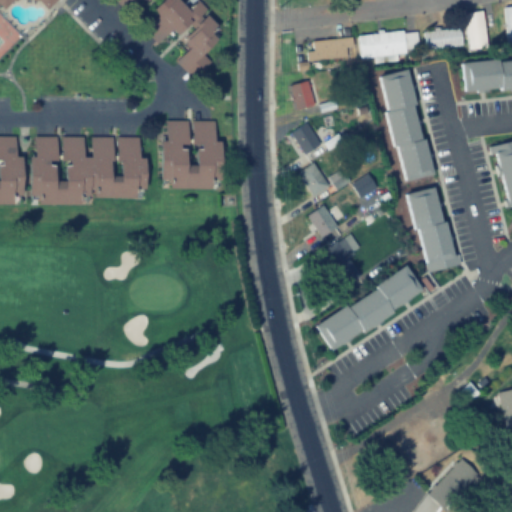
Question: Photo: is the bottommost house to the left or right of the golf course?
right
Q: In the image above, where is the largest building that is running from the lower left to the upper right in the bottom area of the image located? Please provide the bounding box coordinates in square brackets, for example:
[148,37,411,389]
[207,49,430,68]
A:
[314,266,424,350]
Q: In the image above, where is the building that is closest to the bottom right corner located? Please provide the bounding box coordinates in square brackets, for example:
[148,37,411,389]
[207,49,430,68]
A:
[430,460,480,510]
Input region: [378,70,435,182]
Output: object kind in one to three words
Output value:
building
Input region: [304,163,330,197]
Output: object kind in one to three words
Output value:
house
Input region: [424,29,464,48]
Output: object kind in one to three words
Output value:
house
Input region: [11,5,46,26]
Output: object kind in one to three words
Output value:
swimming pool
